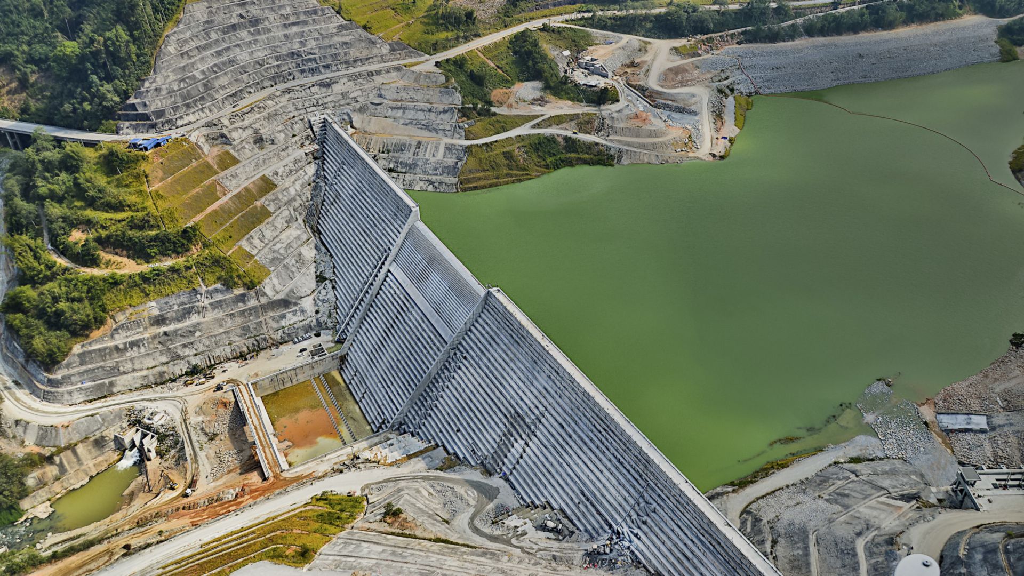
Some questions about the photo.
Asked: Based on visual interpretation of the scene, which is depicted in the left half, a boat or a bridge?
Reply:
bridge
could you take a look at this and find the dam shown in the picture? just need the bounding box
[316,114,784,576]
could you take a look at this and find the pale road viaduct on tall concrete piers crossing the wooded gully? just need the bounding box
[0,119,125,190]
